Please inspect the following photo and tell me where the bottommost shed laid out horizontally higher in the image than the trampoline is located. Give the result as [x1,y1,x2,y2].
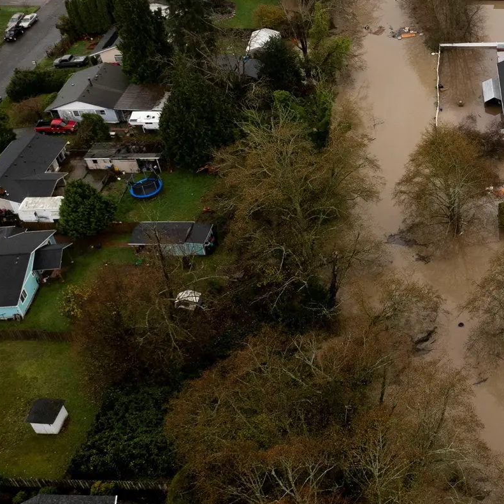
[84,142,159,170]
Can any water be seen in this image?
Yes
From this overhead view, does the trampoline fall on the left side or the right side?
left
